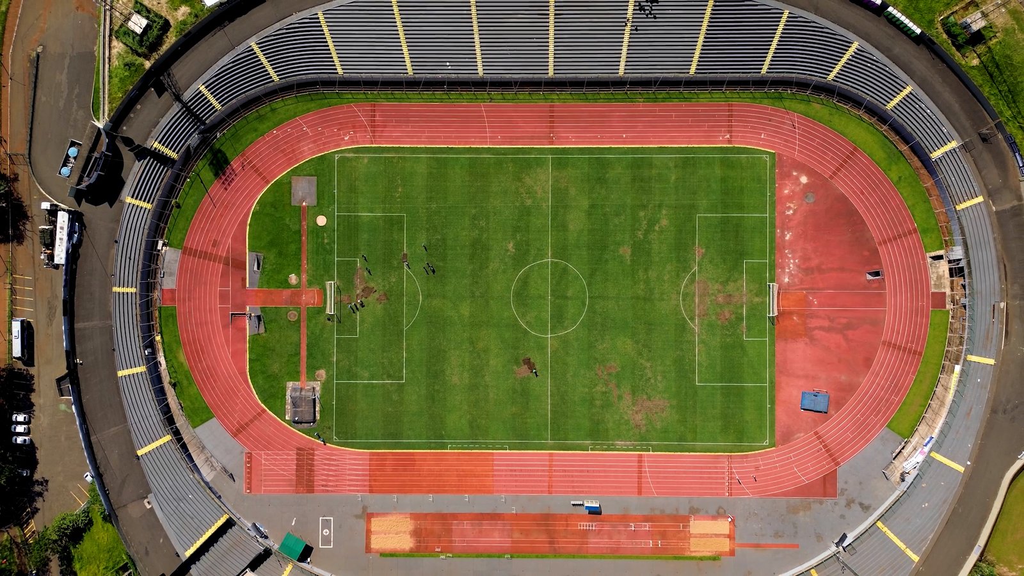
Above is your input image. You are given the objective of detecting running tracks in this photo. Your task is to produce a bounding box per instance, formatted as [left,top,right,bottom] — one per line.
[175,103,930,498]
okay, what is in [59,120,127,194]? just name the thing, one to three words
building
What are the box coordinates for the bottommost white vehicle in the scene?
[82,468,95,486]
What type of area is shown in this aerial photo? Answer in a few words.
sports ground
